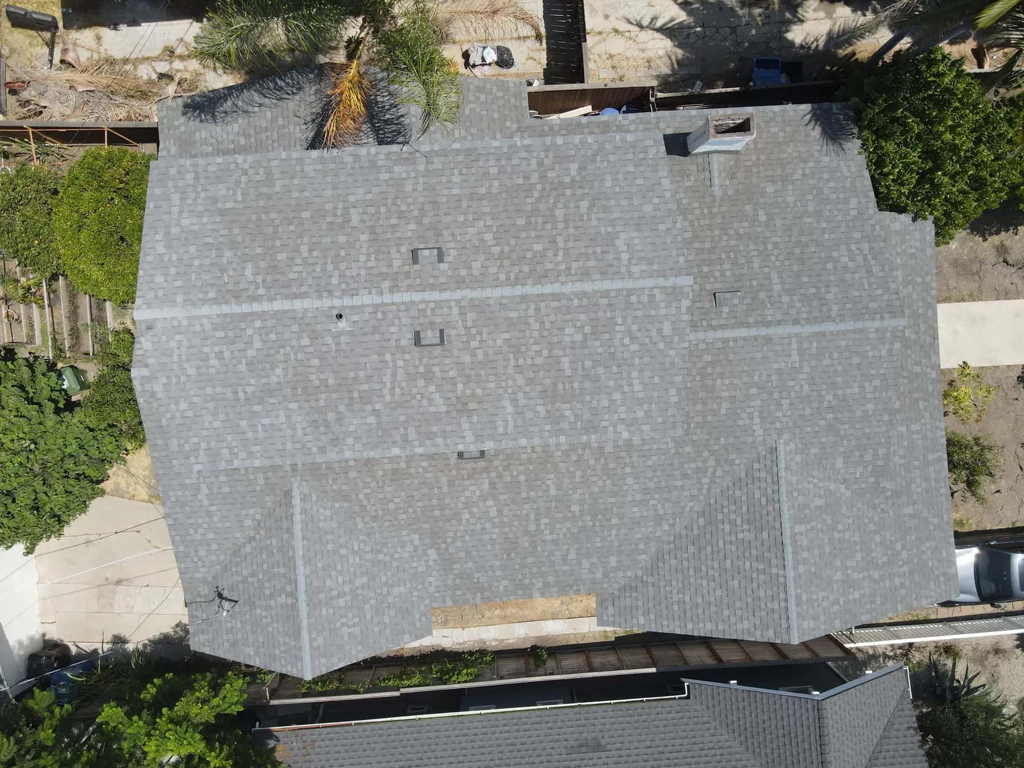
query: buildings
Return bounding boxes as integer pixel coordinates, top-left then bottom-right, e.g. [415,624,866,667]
[130,63,953,682]
[0,552,50,725]
[252,640,932,768]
